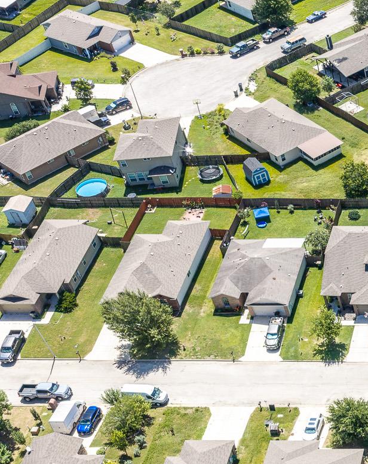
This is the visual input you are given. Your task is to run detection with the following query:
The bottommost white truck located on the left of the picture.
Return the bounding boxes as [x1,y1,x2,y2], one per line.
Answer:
[47,395,90,433]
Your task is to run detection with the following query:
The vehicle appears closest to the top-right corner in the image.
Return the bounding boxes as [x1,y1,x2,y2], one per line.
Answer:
[305,10,327,23]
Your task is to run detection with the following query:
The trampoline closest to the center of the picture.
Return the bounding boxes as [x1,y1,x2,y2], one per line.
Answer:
[197,163,220,183]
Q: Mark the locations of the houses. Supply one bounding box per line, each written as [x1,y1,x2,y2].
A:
[264,441,364,464]
[321,226,368,316]
[96,221,210,326]
[210,238,307,317]
[0,54,60,106]
[314,33,368,86]
[0,111,111,185]
[29,10,134,59]
[219,0,268,22]
[114,109,195,188]
[227,99,343,169]
[0,0,35,19]
[14,432,100,464]
[0,220,100,316]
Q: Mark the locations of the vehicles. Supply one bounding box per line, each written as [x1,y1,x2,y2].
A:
[118,383,168,405]
[0,328,23,360]
[228,39,260,56]
[305,10,327,23]
[78,404,99,434]
[65,75,98,87]
[303,410,325,440]
[281,33,308,51]
[262,25,292,41]
[93,110,110,124]
[104,96,131,112]
[20,383,68,401]
[264,317,283,348]
[47,395,90,433]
